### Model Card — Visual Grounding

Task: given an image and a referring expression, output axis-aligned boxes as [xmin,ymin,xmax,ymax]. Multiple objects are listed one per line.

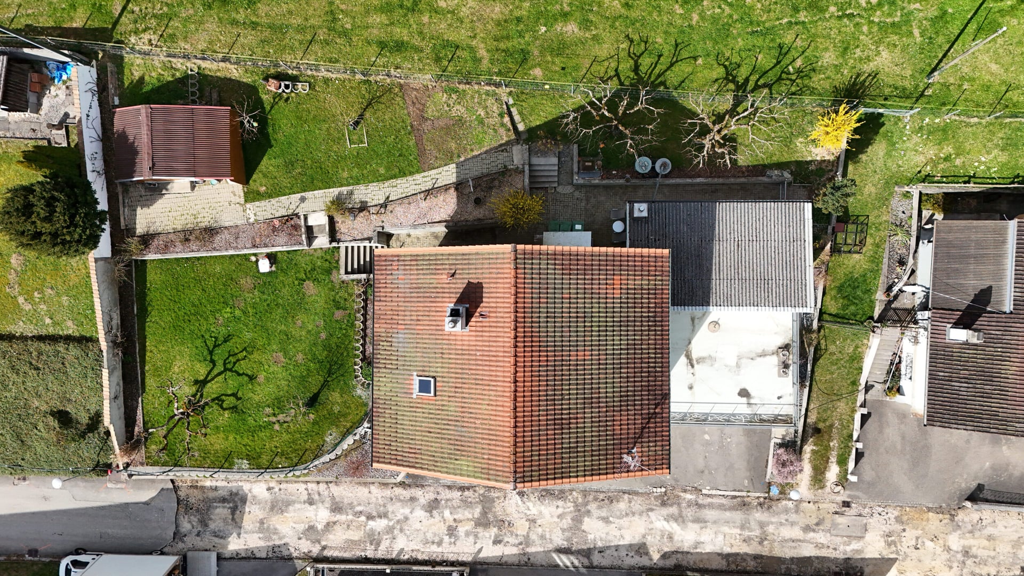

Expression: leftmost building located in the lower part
[369,244,673,493]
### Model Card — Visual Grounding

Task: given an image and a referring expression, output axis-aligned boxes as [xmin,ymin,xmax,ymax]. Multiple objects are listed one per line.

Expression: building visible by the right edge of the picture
[887,216,1024,432]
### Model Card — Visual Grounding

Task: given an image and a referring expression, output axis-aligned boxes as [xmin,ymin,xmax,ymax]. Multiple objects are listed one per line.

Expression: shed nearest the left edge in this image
[0,52,31,113]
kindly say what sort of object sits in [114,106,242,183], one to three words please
shed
